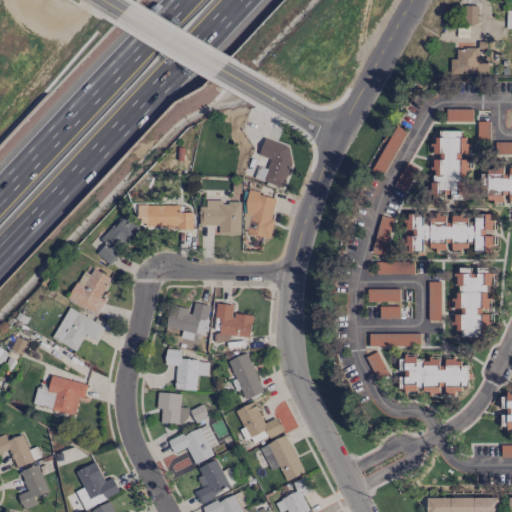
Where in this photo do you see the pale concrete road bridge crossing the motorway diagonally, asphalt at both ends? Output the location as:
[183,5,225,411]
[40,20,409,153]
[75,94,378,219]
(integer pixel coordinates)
[67,0,292,118]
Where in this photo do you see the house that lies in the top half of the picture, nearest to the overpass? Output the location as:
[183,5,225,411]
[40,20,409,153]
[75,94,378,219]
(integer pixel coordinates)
[252,138,298,188]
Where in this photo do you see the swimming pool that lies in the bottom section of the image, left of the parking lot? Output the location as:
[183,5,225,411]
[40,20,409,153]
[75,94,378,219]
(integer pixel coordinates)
[212,419,230,439]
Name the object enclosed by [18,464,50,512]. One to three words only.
house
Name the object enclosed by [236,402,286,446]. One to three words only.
house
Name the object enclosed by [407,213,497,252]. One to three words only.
building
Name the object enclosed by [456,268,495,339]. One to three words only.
building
